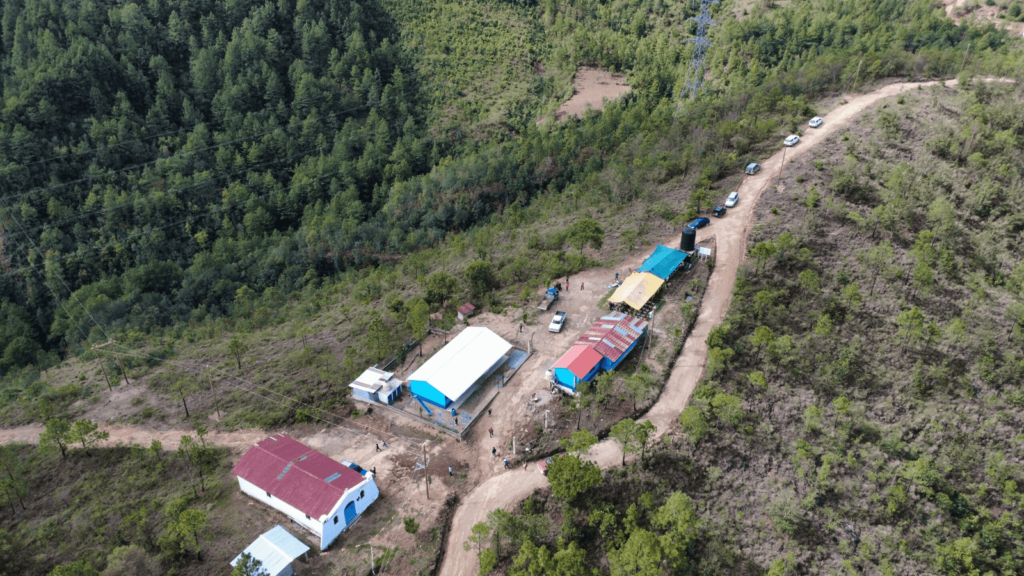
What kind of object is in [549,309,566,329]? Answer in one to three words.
vehicle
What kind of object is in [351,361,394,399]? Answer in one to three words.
shed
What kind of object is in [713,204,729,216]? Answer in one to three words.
vehicle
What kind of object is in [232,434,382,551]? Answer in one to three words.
building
